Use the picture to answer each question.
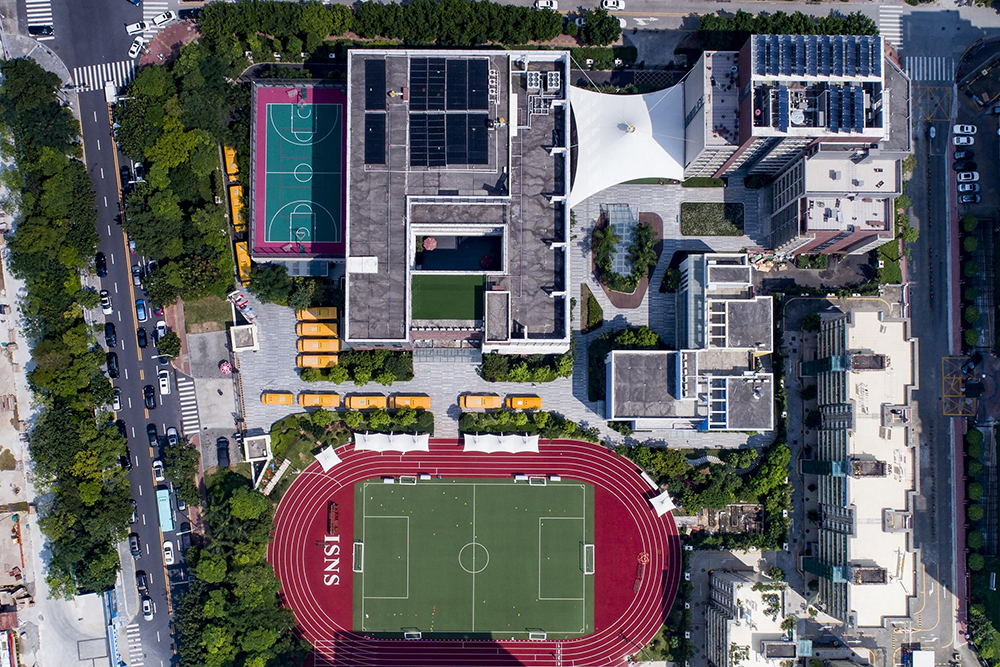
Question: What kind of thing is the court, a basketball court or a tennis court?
basketball court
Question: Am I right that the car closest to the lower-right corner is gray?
No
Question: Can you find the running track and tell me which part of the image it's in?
bottom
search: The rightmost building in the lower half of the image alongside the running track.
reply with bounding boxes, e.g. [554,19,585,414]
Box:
[800,308,920,629]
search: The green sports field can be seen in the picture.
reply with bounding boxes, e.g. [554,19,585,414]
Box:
[354,478,594,640]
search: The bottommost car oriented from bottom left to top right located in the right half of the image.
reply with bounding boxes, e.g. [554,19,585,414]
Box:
[960,352,984,374]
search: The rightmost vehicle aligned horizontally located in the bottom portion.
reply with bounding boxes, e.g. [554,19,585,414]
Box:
[509,395,540,410]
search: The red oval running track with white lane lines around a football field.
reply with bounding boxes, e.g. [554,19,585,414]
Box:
[268,440,681,667]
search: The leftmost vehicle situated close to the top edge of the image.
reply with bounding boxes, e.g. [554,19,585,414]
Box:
[29,24,54,37]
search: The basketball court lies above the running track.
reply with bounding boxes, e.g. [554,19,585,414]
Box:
[251,84,347,261]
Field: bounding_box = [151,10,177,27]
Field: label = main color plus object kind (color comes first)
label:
white car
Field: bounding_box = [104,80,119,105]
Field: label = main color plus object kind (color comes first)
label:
white vehicle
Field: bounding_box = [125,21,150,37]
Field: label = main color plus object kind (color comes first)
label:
white car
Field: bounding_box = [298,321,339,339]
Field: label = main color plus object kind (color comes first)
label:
orange vehicle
